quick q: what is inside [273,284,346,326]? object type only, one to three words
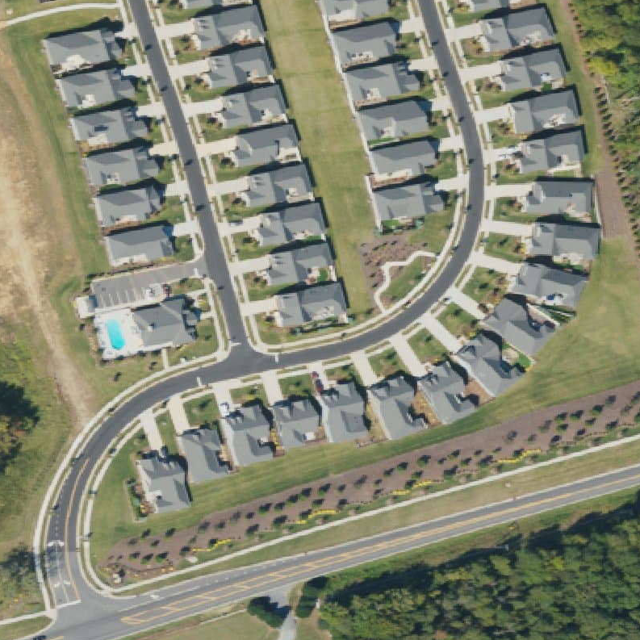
house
